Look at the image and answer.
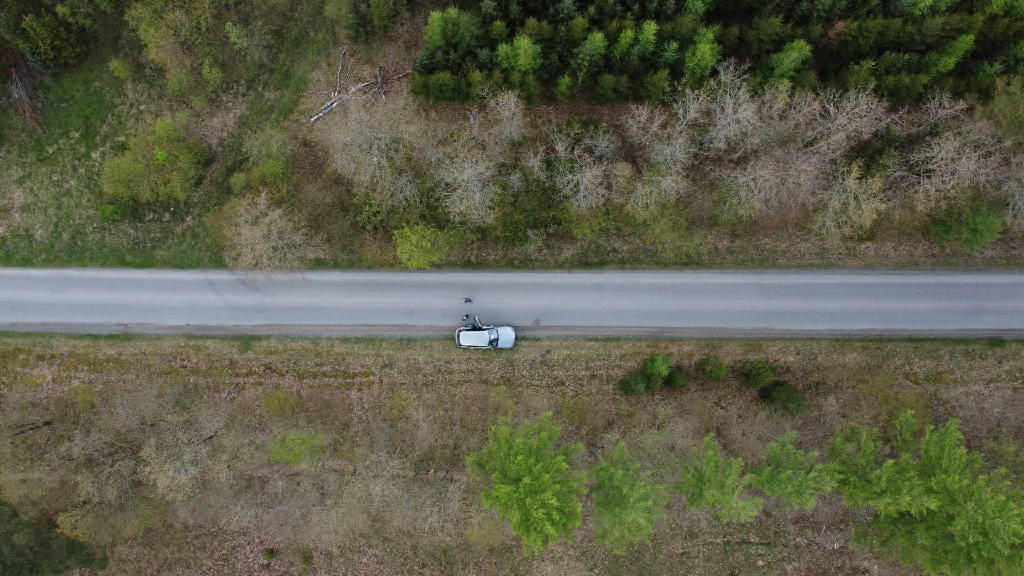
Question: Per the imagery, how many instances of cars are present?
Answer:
1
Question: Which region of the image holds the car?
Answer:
center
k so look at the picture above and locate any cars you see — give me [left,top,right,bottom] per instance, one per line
[456,318,515,353]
